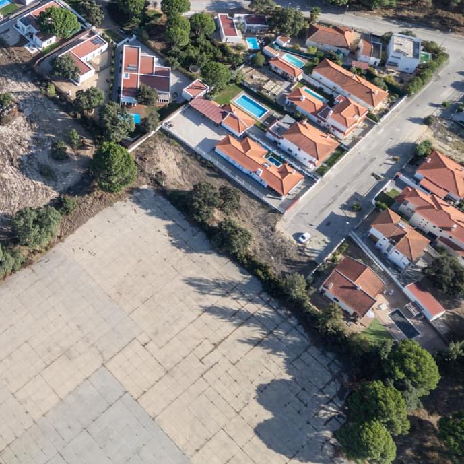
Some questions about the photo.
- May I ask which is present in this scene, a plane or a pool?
pool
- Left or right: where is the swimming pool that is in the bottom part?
right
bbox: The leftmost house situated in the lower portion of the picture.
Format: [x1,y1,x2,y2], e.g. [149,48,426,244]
[319,257,385,320]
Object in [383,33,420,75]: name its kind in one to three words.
house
